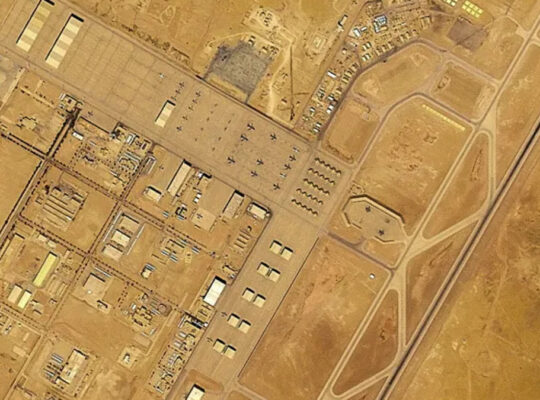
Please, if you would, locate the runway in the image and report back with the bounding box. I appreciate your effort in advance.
[373,112,540,400]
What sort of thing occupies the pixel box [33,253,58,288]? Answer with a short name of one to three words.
building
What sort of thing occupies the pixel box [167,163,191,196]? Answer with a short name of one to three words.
hangar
